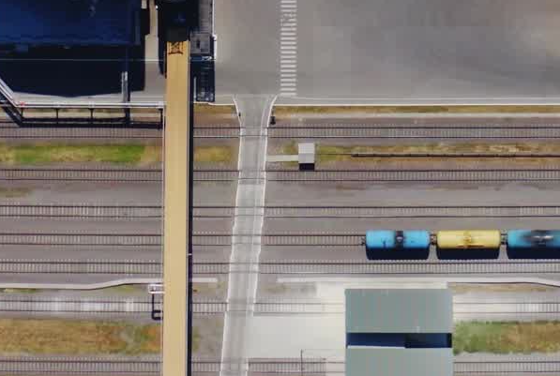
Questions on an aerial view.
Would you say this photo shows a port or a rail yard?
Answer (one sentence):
The picture captures a rail yard.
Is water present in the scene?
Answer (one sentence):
No, there is no water in the image.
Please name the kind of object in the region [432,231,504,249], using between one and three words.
rail car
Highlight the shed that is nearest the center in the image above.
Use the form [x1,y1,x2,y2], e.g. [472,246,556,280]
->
[299,143,315,164]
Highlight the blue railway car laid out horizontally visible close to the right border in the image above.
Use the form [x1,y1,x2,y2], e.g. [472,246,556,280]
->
[503,231,560,249]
